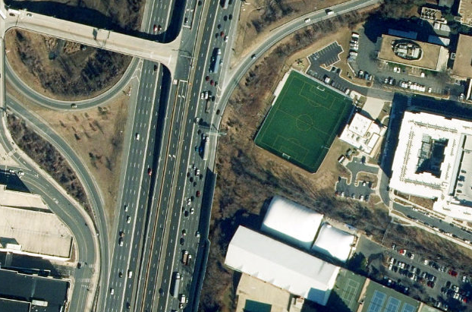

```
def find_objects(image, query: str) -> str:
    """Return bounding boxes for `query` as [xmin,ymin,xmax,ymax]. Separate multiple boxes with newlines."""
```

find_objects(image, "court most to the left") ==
[331,272,366,299]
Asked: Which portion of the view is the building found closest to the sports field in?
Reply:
right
